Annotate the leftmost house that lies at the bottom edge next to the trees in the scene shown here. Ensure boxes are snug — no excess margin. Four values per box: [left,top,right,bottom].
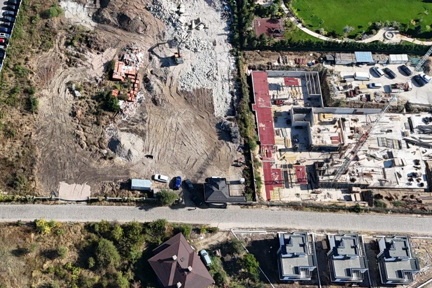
[148,233,214,288]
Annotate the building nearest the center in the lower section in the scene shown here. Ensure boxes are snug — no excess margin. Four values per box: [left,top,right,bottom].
[204,178,245,204]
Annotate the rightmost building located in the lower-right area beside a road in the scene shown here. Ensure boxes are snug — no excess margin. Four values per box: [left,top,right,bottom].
[371,236,417,287]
